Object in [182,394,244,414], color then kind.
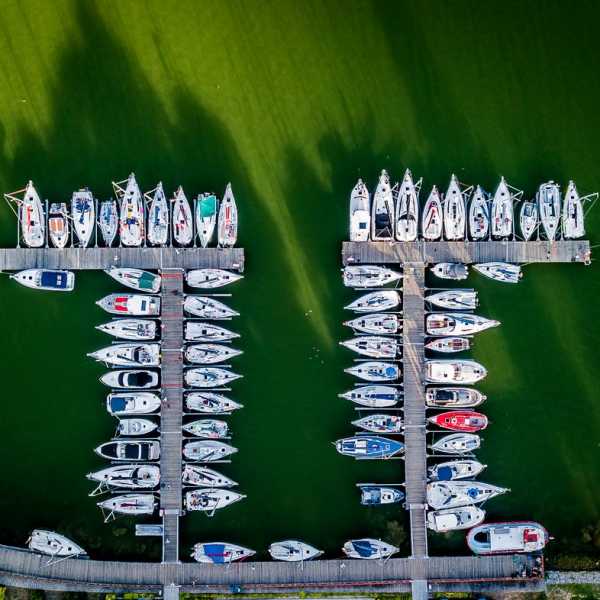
white boat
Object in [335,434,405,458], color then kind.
blue boat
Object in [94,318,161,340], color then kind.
white boat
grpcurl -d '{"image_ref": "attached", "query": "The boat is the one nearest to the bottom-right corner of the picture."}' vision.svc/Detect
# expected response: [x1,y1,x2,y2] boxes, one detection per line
[464,520,551,555]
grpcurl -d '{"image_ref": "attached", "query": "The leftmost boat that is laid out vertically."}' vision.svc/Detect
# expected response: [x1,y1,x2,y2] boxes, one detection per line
[7,179,46,252]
